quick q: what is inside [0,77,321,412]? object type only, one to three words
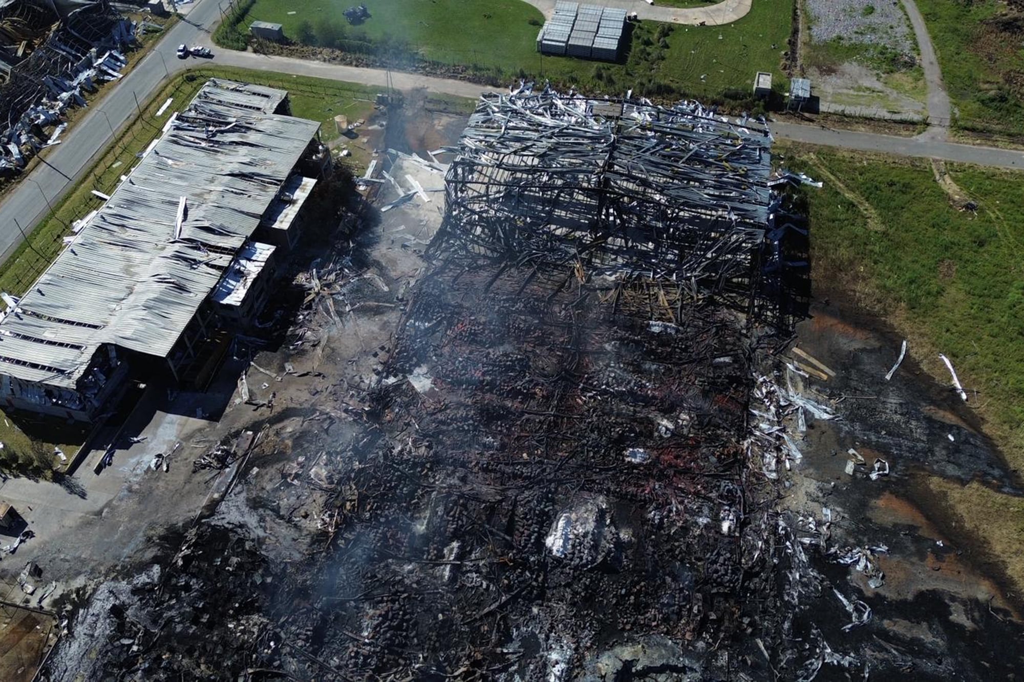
warehouse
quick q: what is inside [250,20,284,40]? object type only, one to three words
shed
